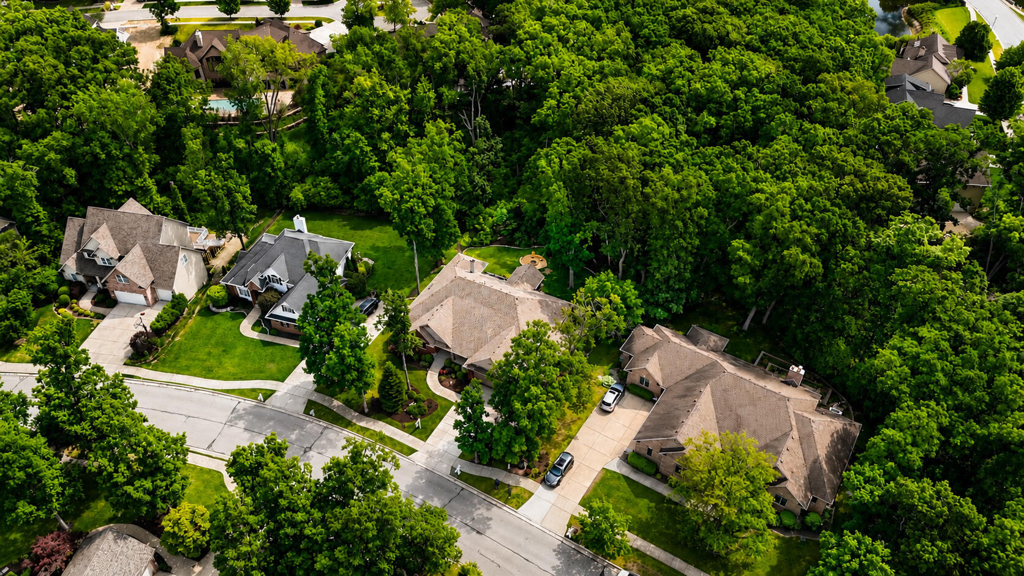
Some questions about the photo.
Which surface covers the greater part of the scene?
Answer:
trees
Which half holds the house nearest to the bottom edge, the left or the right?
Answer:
left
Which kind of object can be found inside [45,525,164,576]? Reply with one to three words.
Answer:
house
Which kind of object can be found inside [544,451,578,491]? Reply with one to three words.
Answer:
car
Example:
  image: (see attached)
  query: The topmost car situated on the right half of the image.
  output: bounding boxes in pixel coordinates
[599,381,630,414]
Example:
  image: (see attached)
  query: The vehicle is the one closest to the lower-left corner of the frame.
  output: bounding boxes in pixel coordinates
[353,293,383,320]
